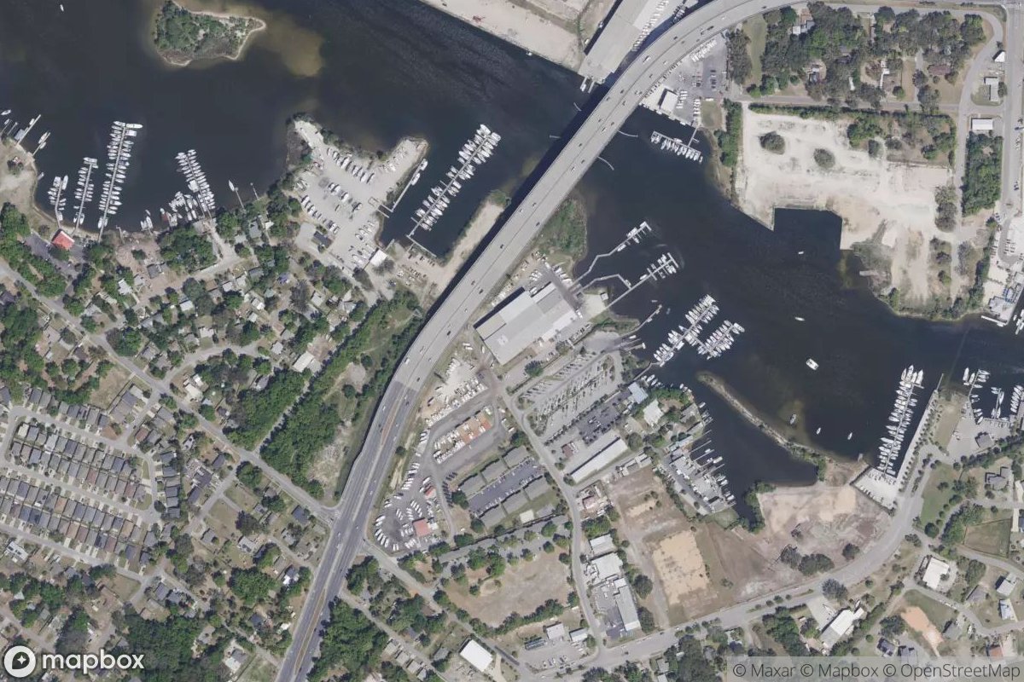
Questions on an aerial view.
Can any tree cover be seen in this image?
Yes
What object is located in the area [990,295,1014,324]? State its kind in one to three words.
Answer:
building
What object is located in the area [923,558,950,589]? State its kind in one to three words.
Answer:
house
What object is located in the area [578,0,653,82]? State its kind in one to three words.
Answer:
shed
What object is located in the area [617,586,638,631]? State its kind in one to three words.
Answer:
building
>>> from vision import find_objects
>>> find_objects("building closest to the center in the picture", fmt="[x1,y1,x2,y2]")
[476,283,576,365]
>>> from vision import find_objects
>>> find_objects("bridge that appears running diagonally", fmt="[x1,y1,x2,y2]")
[394,0,806,388]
